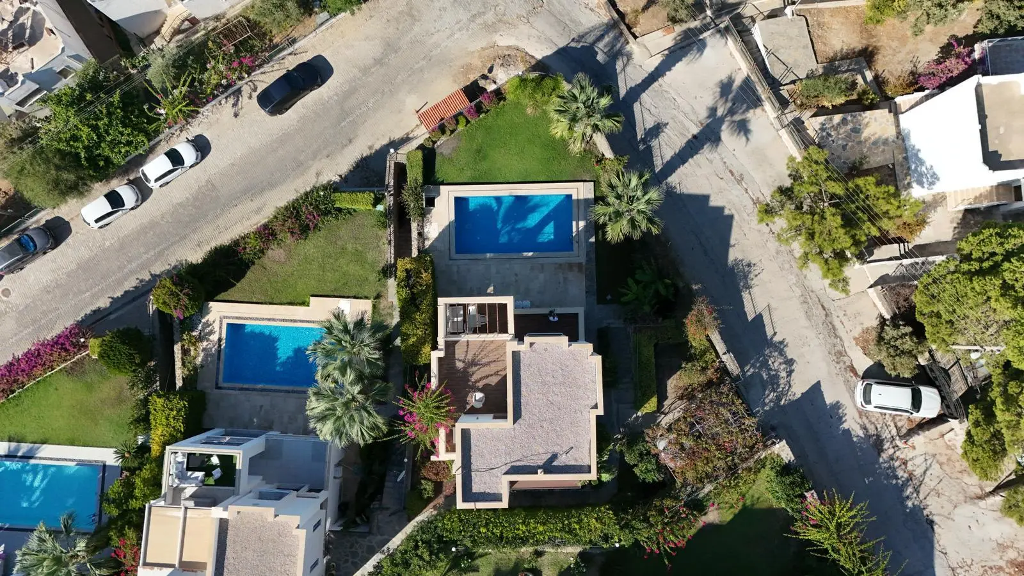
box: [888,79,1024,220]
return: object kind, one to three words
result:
house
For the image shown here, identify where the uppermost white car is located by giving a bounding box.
[134,139,206,192]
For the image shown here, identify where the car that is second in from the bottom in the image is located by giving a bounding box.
[0,224,62,282]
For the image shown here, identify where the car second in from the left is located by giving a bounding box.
[74,181,147,232]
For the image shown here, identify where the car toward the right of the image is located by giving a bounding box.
[856,378,938,420]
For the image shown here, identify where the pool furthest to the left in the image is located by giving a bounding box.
[0,440,126,553]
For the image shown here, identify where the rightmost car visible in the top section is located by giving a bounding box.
[250,60,327,120]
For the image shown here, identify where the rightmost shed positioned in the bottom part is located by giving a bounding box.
[926,345,969,399]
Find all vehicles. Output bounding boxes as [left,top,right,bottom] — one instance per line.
[74,181,147,232]
[250,60,327,120]
[856,378,938,420]
[134,139,206,192]
[0,224,62,282]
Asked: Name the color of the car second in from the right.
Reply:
black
